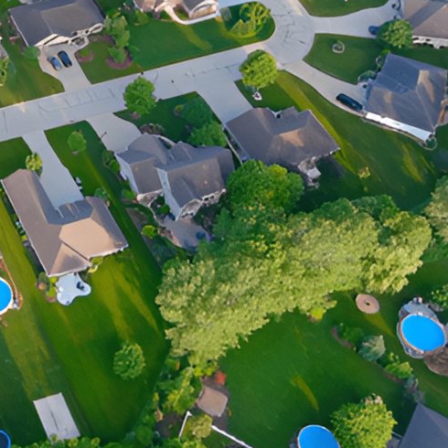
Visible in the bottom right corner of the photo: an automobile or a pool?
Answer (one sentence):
What appears in the bottom right corner of the photo is a pool.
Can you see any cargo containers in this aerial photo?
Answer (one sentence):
No, the photo shows no cargo container.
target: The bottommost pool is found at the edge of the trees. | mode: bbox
[289,418,343,448]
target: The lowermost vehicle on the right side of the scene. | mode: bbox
[339,88,365,107]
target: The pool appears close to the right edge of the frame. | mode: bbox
[395,312,447,352]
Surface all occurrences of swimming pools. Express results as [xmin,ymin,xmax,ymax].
[395,312,447,352]
[289,418,343,448]
[0,278,16,315]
